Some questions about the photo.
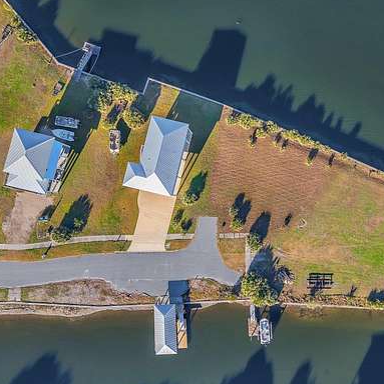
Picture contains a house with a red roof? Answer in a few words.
No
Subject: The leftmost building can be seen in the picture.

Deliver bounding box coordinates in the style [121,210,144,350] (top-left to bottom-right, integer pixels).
[4,128,69,194]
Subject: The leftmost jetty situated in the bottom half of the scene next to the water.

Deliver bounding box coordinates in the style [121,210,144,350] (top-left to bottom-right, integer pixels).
[157,296,189,350]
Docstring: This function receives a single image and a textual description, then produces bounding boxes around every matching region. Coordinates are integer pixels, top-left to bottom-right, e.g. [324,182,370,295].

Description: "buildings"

[155,304,179,355]
[122,115,199,195]
[4,128,69,194]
